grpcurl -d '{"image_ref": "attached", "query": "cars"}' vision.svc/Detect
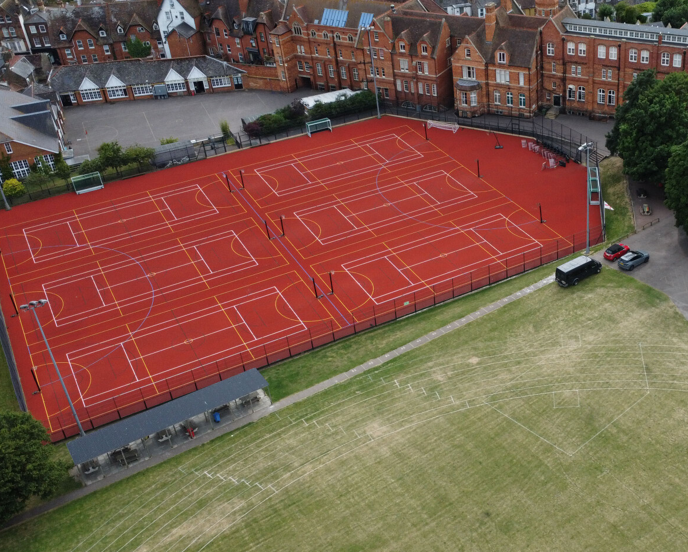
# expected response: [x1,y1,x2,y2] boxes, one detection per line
[602,242,631,261]
[617,249,652,269]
